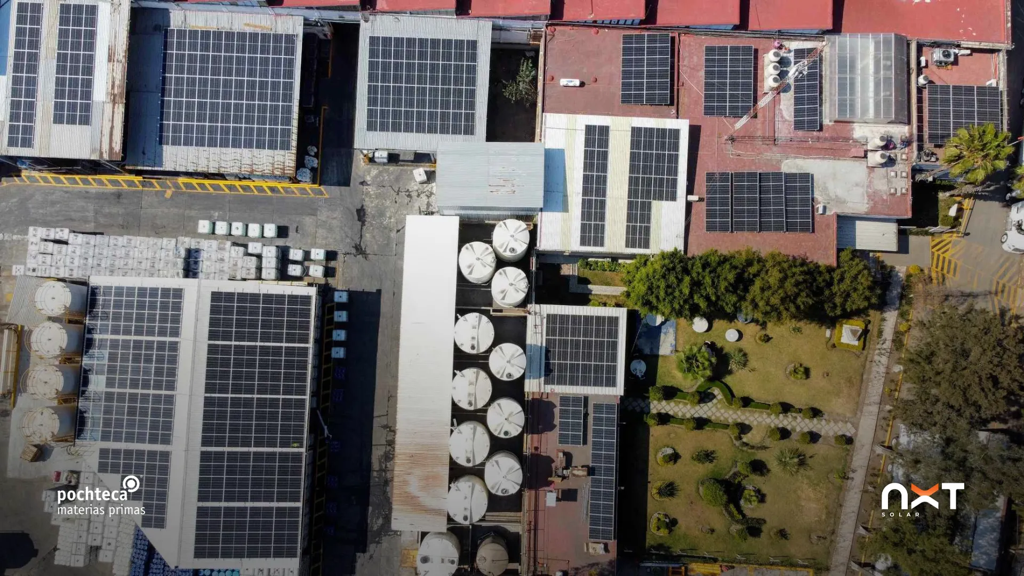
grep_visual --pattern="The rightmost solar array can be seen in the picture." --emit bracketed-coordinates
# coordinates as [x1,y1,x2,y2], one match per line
[926,84,1000,145]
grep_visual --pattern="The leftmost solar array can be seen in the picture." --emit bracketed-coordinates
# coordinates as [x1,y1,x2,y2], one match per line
[8,2,43,148]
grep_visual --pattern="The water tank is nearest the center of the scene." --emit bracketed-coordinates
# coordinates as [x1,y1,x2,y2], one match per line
[492,267,529,307]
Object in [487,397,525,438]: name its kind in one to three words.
water tank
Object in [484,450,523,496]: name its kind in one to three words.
water tank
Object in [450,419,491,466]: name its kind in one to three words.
storage tank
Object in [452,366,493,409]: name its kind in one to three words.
storage tank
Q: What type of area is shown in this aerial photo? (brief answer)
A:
industrial area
